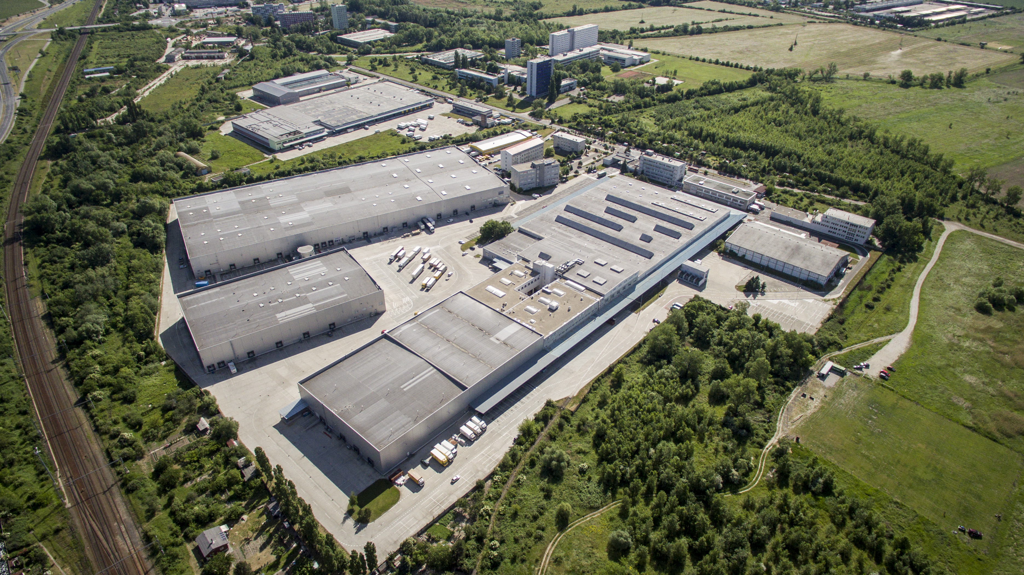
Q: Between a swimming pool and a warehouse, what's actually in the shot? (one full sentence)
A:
This aerial view contains a warehouse.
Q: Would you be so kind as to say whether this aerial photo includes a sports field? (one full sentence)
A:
Yes, looking at the shot, I can spot a sports field.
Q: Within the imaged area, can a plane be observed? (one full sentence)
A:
No, no plane is visible in the scene.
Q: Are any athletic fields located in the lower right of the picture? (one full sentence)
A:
Yes, an athletic field is visible in the lower right of the picture.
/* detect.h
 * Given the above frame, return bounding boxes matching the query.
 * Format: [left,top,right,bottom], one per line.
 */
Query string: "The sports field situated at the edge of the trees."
[793,373,1020,542]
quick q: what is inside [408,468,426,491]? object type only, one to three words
vehicle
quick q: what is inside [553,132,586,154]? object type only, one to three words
building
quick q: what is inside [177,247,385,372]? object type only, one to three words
warehouse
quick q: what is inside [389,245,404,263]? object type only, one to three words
vehicle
